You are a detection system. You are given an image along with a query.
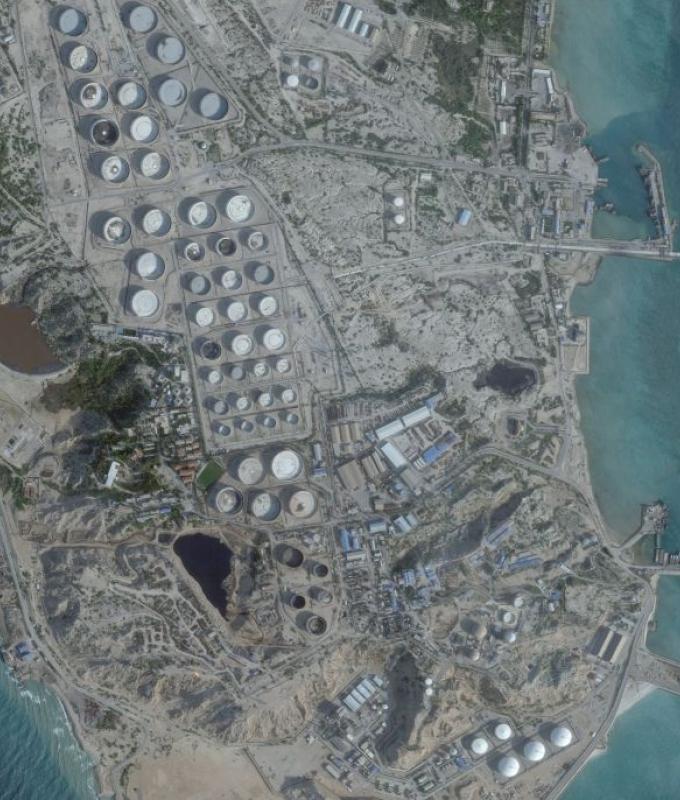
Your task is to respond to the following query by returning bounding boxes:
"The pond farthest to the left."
[0,303,66,374]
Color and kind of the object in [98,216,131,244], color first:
white storage tank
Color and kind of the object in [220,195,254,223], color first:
white storage tank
